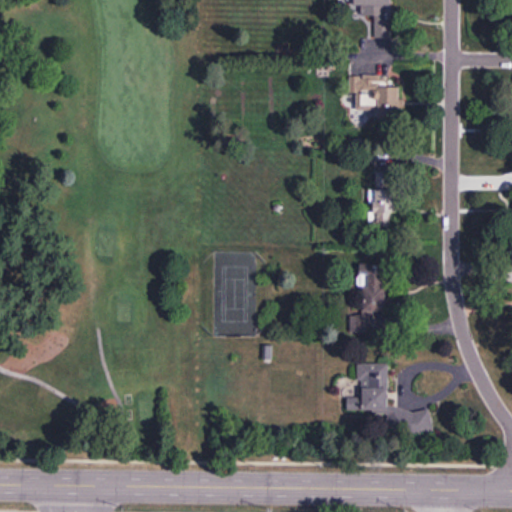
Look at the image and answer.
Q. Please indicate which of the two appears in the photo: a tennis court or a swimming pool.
tennis court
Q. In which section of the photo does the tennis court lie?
center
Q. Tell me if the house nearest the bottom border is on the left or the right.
right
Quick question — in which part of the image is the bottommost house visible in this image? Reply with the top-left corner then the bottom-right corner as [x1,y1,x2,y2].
[346,364,433,433]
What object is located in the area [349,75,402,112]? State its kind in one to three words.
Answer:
house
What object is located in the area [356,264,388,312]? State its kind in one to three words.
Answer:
house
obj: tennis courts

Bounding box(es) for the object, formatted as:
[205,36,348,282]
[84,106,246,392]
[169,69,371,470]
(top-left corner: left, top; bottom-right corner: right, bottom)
[214,252,256,336]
